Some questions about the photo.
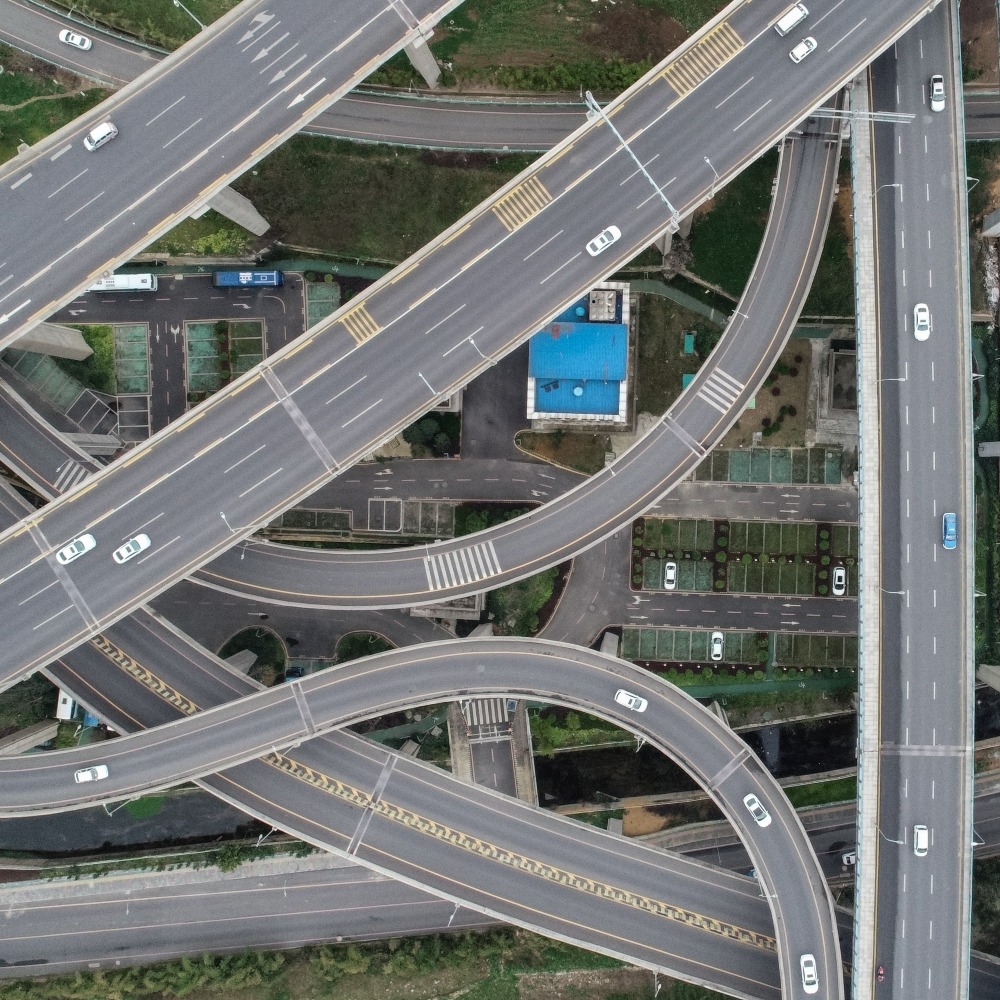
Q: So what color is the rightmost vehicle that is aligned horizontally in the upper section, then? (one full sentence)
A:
From above, the rightmost vehicle that is aligned horizontally in the upper section appears blue.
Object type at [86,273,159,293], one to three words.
vehicle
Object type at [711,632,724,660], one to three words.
vehicle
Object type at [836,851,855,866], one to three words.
car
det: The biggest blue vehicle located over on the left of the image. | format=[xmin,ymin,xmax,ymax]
[213,271,287,290]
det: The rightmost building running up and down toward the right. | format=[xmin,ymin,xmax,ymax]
[816,338,858,437]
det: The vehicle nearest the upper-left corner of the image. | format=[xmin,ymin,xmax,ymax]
[60,30,93,51]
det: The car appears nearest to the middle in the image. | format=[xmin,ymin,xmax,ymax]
[664,562,677,589]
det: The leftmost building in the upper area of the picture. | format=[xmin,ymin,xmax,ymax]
[428,386,467,412]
